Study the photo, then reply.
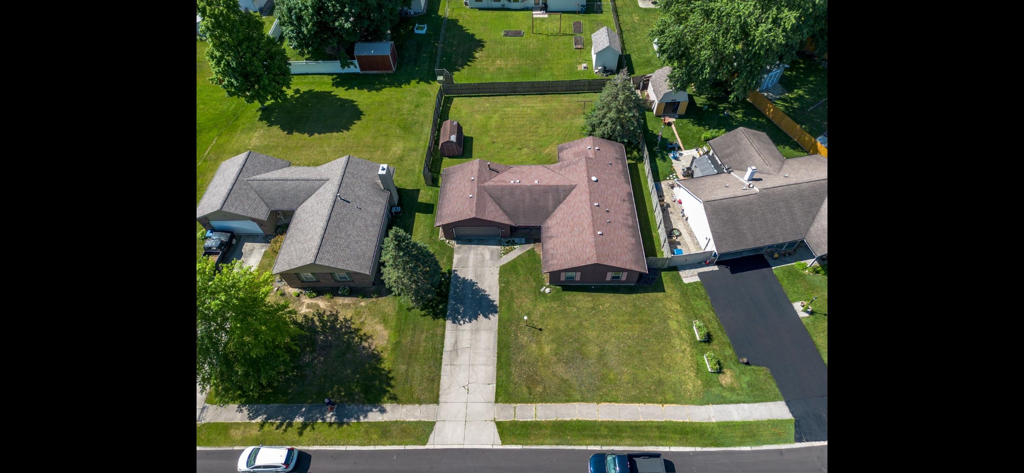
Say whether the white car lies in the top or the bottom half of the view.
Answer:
bottom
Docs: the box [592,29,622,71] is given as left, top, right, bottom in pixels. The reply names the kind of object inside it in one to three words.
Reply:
shed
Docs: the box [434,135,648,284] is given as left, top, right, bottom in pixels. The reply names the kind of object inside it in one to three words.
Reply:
house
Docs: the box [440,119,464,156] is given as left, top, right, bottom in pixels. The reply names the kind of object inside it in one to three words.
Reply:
shed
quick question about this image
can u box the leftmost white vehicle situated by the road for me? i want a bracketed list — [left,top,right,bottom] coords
[235,445,301,473]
